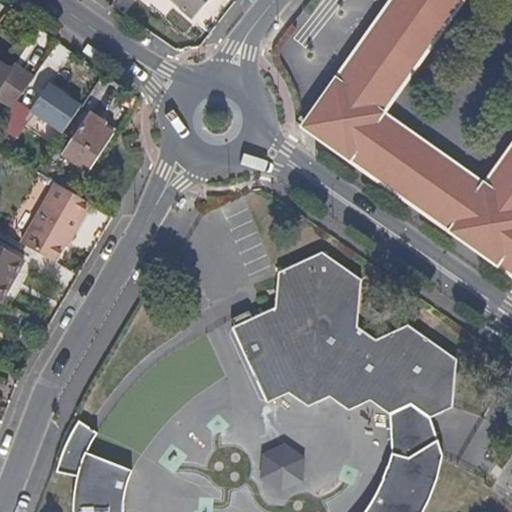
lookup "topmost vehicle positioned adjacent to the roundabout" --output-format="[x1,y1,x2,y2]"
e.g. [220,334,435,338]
[130,64,150,82]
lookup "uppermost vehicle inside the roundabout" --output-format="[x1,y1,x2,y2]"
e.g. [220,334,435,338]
[166,110,189,138]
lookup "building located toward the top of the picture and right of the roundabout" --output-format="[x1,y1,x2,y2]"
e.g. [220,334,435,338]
[302,0,512,278]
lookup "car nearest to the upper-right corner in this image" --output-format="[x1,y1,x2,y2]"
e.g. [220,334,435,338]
[353,194,376,214]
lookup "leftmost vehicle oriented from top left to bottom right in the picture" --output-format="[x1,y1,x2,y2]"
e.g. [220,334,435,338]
[58,62,74,82]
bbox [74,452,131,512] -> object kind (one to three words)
building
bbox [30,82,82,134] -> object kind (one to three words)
house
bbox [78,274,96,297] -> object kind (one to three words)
car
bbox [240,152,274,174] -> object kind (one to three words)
truck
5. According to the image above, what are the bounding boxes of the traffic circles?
[147,46,290,188]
